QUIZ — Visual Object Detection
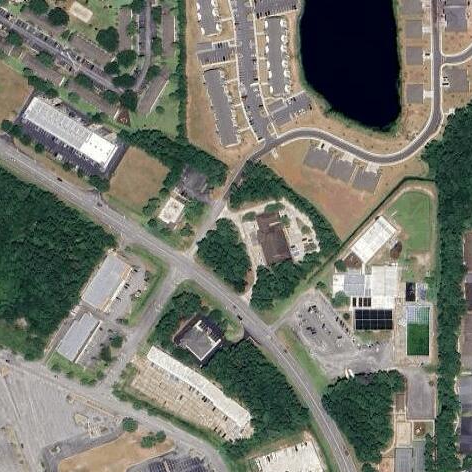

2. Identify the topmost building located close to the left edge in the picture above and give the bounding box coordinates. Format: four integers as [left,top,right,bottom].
[21,9,65,37]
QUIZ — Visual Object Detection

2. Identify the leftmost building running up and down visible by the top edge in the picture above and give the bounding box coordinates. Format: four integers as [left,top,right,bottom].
[117,8,132,50]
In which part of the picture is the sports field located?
right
